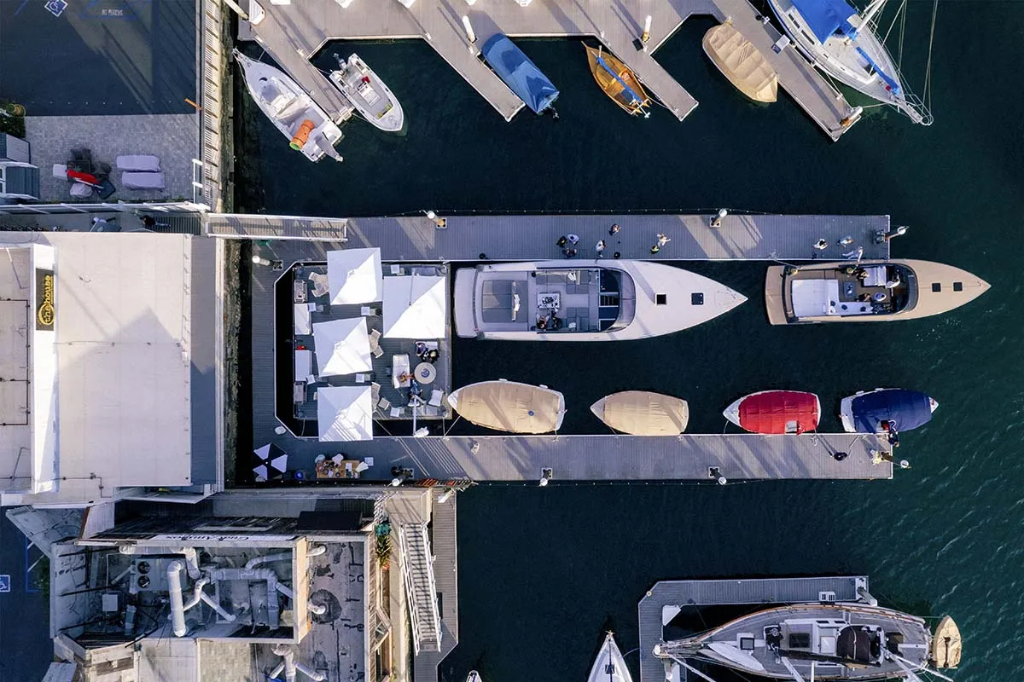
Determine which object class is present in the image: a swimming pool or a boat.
boat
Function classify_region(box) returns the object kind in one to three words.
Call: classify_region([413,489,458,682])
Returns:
pier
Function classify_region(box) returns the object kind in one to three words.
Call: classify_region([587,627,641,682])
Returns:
boat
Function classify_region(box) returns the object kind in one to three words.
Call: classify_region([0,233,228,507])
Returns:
building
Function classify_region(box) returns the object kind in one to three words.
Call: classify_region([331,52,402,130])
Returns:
boat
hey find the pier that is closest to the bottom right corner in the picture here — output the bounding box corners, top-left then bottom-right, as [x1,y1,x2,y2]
[638,575,869,682]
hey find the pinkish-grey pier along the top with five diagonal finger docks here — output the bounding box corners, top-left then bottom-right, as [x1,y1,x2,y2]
[238,0,863,141]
